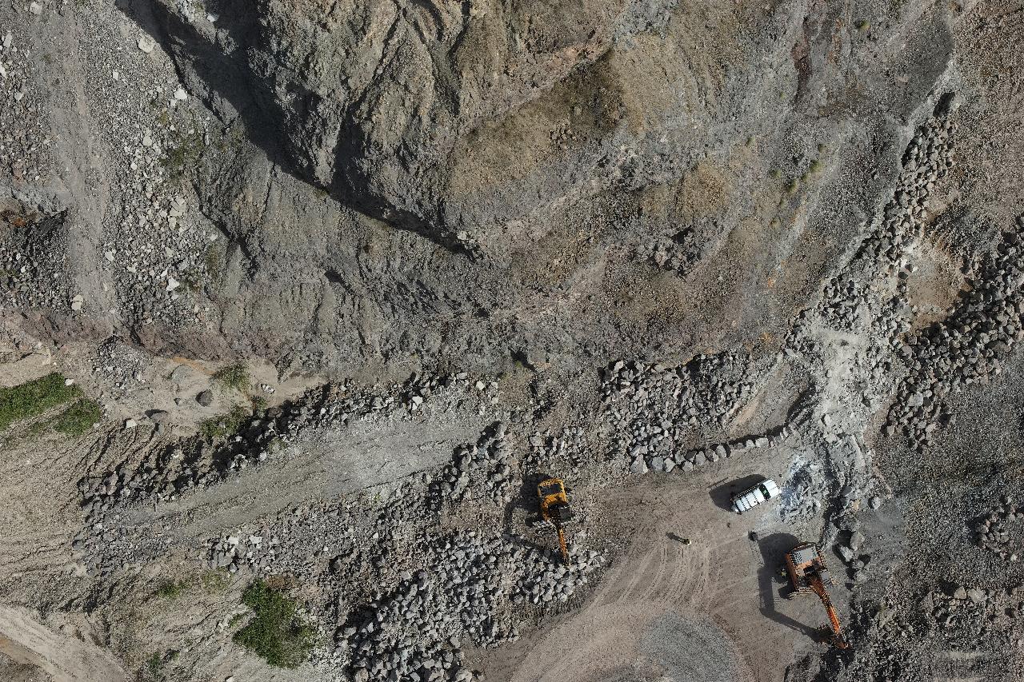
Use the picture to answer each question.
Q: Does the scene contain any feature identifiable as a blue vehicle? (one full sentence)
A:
No, I can see no blue vehicle in this picture.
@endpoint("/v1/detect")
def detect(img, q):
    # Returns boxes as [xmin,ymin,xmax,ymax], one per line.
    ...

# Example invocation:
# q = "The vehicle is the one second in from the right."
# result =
[726,475,781,514]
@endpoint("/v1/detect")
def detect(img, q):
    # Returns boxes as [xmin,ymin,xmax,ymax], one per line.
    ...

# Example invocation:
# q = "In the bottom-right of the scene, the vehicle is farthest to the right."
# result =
[771,538,839,642]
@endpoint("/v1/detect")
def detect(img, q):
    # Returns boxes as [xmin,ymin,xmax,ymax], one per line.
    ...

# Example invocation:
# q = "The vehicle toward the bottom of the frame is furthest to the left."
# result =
[528,474,577,561]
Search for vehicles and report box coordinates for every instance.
[528,474,577,561]
[771,538,839,642]
[726,475,781,514]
